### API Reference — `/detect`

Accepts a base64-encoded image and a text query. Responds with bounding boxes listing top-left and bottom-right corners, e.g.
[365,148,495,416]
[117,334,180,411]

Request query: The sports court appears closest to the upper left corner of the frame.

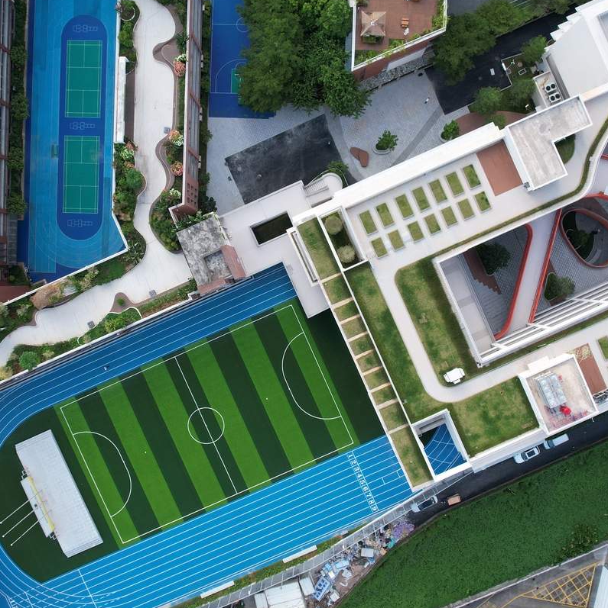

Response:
[65,40,102,116]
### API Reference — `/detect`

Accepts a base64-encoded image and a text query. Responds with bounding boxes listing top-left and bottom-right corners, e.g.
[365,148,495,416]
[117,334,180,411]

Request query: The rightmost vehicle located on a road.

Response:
[540,431,573,452]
